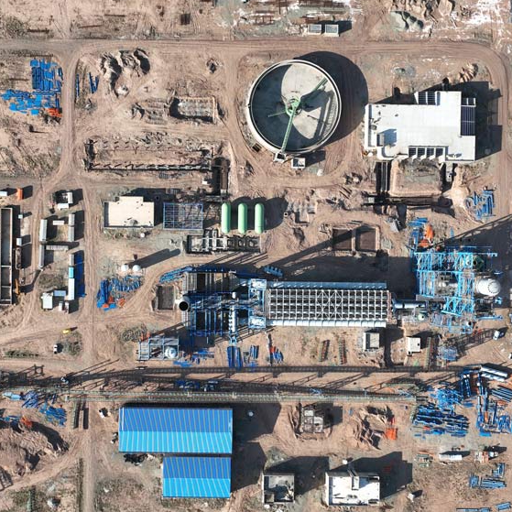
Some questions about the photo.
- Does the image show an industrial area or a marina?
industrial area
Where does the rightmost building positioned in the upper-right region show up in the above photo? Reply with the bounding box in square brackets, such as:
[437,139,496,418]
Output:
[362,91,476,165]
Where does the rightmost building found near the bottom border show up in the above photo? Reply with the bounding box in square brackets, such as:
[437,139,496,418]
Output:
[324,469,379,506]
